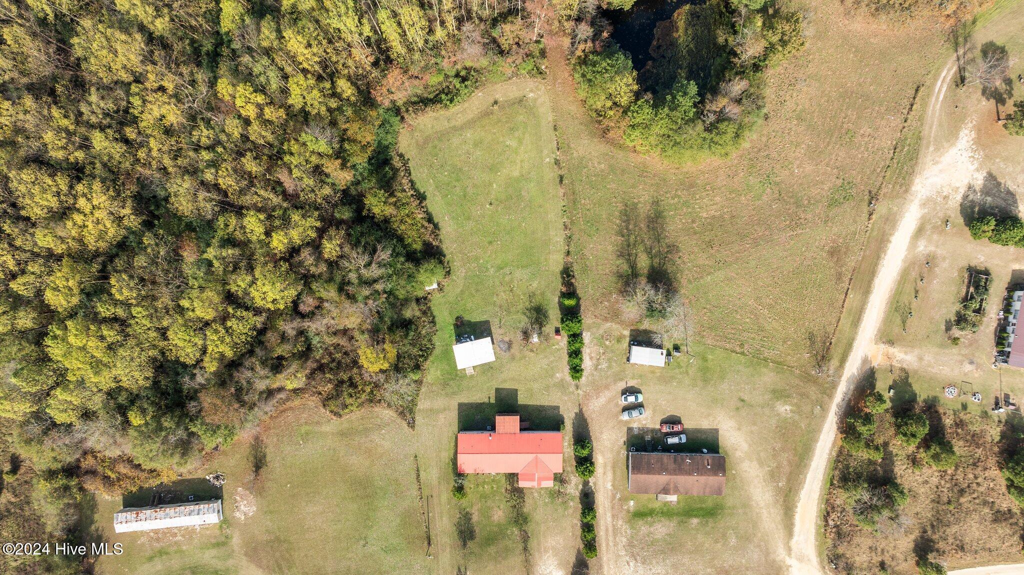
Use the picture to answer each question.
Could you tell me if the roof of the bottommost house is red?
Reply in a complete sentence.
No, the color of the roof of the bottommost house is white.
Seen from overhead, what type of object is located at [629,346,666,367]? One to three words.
shed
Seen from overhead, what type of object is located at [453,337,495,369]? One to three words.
shed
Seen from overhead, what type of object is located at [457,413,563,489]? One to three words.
house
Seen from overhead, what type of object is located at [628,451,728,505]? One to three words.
house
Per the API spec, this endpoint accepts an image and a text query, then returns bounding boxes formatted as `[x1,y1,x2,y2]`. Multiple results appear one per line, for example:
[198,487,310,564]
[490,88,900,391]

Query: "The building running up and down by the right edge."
[994,298,1024,371]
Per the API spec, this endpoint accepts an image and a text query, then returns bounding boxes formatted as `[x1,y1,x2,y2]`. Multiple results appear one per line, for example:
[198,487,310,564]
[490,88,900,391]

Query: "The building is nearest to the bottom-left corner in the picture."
[114,500,224,533]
